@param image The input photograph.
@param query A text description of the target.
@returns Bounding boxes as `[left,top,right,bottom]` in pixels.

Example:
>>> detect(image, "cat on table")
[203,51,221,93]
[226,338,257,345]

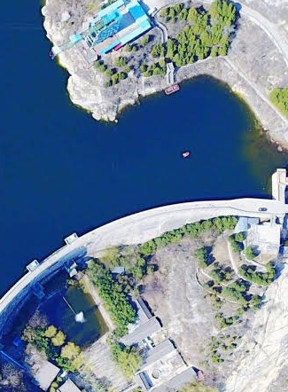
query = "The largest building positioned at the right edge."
[244,214,281,254]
